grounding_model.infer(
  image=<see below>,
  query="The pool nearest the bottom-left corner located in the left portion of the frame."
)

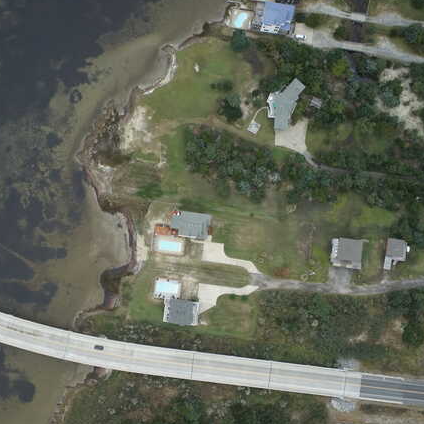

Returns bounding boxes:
[154,278,181,298]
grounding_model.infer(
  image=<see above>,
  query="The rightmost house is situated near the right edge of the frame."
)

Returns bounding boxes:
[383,238,407,270]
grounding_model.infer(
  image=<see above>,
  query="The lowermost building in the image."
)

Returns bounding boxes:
[163,293,199,326]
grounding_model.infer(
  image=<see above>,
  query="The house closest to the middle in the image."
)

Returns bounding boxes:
[155,212,213,238]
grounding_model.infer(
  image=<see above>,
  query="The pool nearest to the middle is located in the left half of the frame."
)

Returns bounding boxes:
[152,236,185,256]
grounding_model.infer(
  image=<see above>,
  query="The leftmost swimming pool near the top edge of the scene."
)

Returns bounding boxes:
[227,9,254,30]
